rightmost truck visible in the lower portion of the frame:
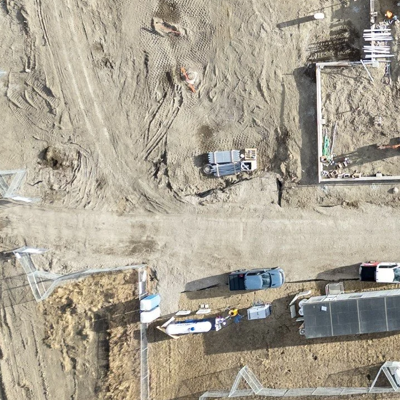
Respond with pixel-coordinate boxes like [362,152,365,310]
[361,261,400,286]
